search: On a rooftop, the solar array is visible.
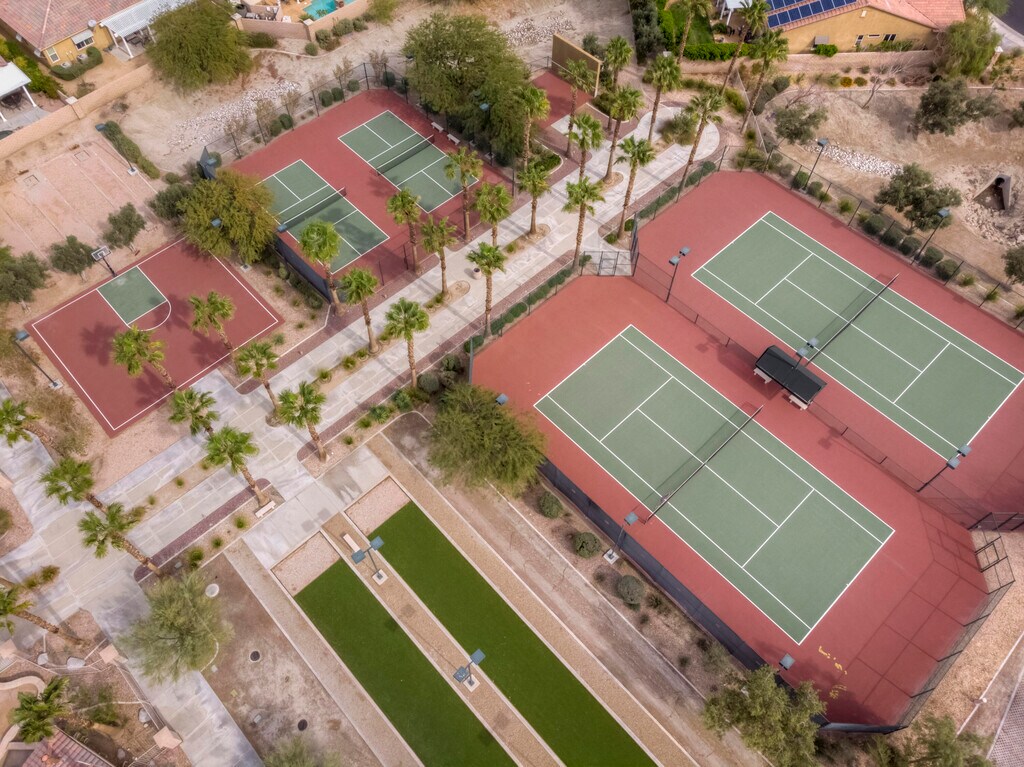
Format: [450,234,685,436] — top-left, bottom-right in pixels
[758,0,857,27]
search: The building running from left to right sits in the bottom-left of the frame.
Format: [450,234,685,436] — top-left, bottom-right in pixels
[21,731,111,767]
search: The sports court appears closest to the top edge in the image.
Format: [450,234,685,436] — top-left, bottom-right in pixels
[491,71,590,141]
